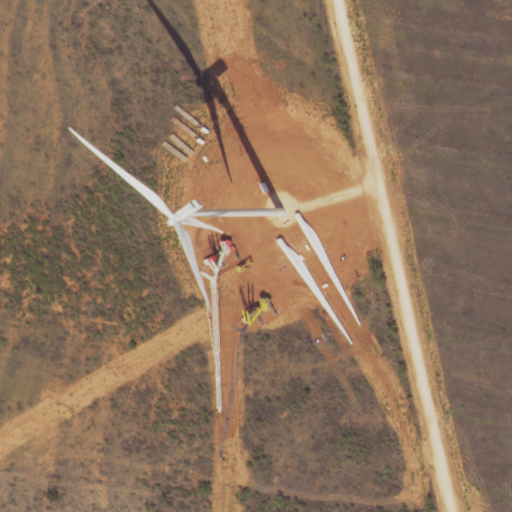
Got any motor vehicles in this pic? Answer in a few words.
Yes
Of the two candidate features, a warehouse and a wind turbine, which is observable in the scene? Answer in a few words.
wind turbine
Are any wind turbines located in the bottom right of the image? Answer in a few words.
No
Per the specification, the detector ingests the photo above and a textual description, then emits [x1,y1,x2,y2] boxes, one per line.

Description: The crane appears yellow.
[220,288,278,453]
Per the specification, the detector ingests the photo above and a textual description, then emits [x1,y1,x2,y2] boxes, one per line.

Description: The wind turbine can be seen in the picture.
[71,127,290,312]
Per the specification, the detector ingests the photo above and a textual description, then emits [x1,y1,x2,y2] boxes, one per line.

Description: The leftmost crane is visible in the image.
[202,232,241,412]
